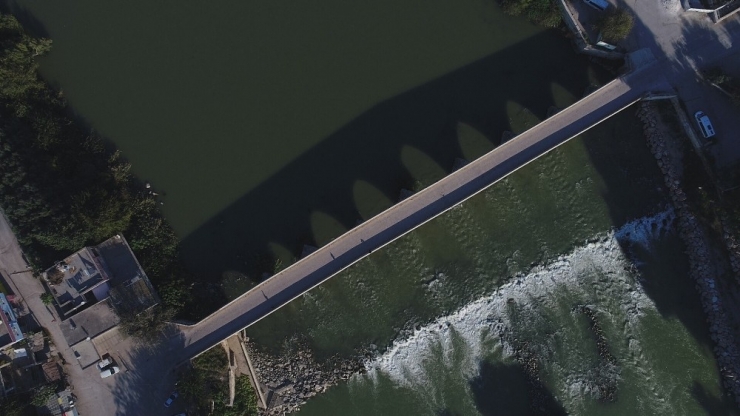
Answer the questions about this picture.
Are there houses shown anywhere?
Yes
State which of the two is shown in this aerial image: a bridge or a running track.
bridge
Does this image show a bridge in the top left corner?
No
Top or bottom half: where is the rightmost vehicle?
top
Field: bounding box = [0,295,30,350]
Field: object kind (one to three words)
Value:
house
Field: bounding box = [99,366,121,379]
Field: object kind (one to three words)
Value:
vehicle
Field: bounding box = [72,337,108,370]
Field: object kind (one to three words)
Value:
shed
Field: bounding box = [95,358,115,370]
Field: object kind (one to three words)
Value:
vehicle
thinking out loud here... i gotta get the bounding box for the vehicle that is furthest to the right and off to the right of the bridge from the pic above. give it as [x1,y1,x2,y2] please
[694,111,718,139]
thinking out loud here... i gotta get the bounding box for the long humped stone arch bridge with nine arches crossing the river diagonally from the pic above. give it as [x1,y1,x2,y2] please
[152,60,663,369]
